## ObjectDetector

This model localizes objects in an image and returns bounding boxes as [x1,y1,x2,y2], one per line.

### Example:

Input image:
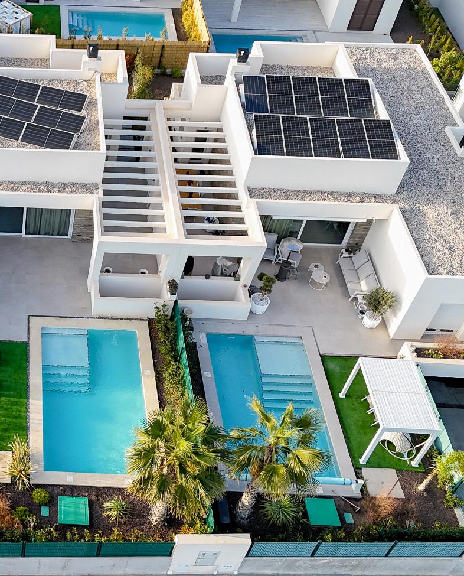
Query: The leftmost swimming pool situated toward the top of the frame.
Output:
[59,4,179,40]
